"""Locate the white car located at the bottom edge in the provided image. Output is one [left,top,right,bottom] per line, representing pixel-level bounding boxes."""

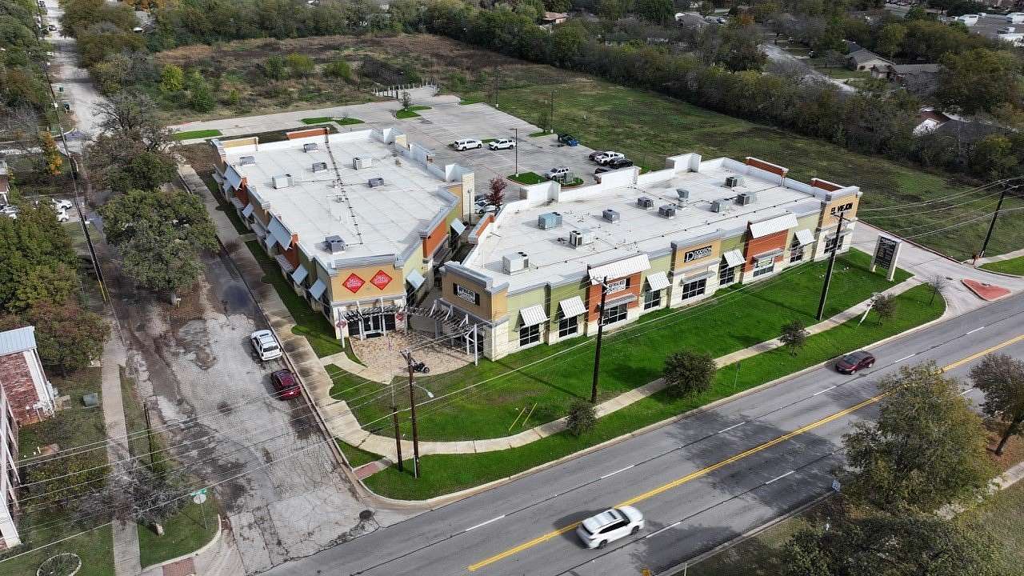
[575,506,642,551]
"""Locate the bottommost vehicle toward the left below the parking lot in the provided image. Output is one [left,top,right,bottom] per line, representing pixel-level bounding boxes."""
[270,370,303,401]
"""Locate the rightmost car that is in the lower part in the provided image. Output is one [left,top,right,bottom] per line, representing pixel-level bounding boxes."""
[829,348,873,374]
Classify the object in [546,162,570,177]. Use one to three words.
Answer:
car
